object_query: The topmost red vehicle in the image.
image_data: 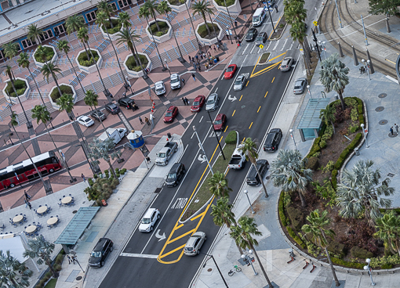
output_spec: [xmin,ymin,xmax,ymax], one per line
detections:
[223,65,239,80]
